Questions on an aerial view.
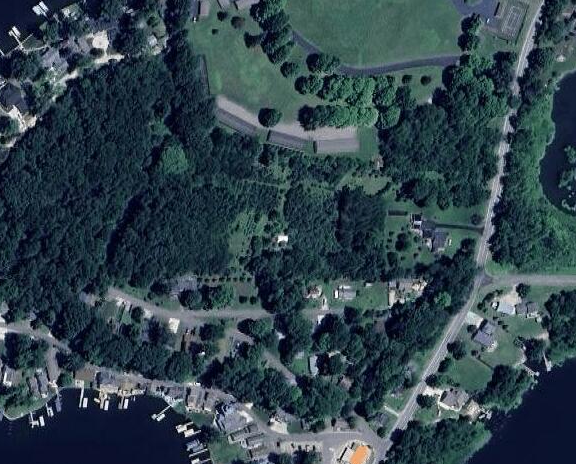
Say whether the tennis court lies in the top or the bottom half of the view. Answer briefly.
top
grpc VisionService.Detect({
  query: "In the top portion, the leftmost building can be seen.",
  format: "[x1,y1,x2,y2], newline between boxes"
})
[2,84,27,113]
